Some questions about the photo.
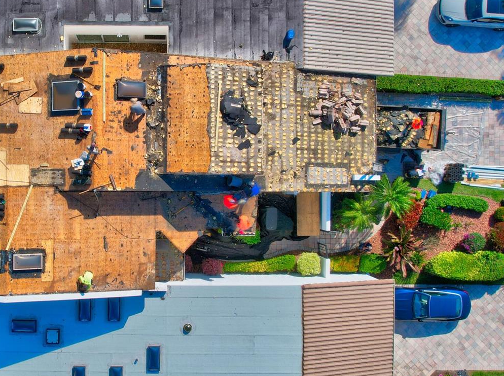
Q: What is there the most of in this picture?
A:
buildings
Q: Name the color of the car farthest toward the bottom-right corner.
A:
blue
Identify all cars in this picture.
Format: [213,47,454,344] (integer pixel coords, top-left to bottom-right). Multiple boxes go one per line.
[395,285,472,325]
[433,0,504,32]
